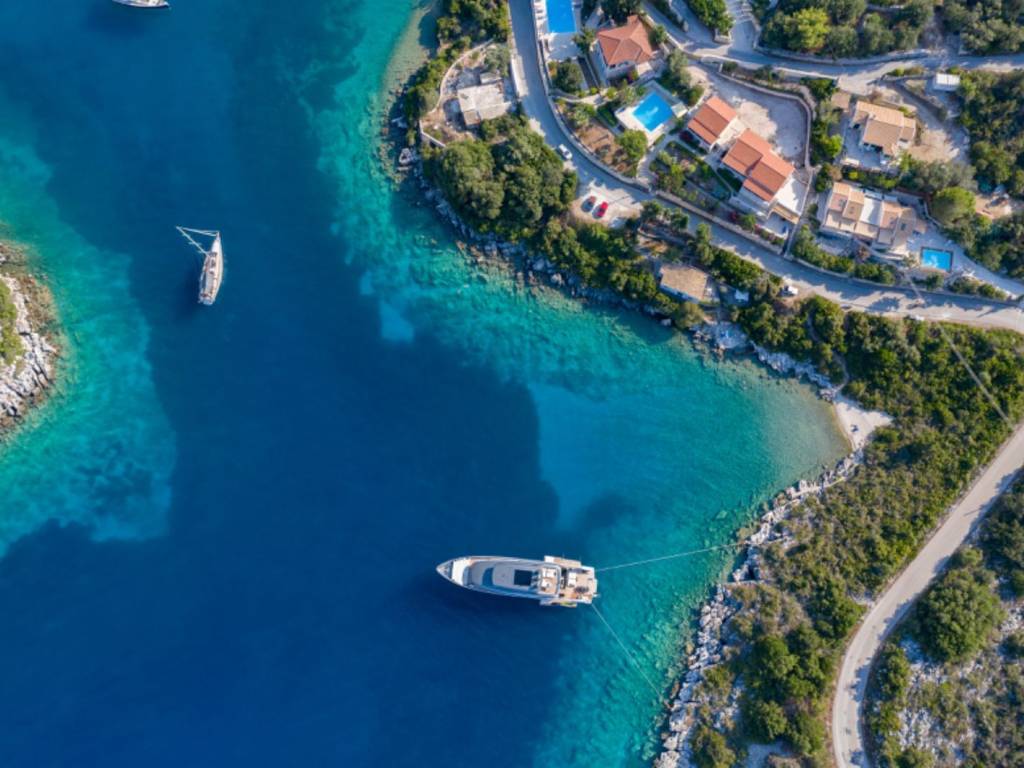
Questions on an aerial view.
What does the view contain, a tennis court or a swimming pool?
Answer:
swimming pool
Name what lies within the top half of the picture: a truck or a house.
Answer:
house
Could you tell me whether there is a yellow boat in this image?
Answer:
No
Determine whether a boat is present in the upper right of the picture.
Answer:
No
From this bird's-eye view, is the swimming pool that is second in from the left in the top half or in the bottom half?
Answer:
top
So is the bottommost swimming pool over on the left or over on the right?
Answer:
right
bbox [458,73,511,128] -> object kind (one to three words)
house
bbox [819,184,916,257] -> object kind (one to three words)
house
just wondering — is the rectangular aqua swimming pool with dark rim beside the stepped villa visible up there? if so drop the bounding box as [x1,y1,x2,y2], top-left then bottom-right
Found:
[915,244,957,278]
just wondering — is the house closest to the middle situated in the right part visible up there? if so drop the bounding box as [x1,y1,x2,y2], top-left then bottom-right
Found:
[660,266,707,301]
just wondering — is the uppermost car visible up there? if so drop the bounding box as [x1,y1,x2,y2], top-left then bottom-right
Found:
[558,144,572,161]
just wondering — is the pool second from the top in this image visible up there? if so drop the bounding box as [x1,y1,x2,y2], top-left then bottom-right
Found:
[614,80,687,149]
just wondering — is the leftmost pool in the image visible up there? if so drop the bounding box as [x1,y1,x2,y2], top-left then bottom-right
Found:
[536,0,583,63]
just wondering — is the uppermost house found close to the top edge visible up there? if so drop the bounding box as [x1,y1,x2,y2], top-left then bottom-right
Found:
[597,16,653,81]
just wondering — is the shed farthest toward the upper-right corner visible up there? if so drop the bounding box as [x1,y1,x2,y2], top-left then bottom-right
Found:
[931,73,960,92]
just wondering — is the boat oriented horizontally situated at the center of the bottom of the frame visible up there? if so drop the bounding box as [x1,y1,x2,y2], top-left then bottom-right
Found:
[436,555,598,607]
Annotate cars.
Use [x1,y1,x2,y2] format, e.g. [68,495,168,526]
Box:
[586,194,597,211]
[782,285,800,296]
[558,144,572,161]
[597,202,608,219]
[909,312,924,322]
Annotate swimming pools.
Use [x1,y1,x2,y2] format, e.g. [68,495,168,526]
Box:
[536,0,583,63]
[915,244,957,278]
[614,80,687,149]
